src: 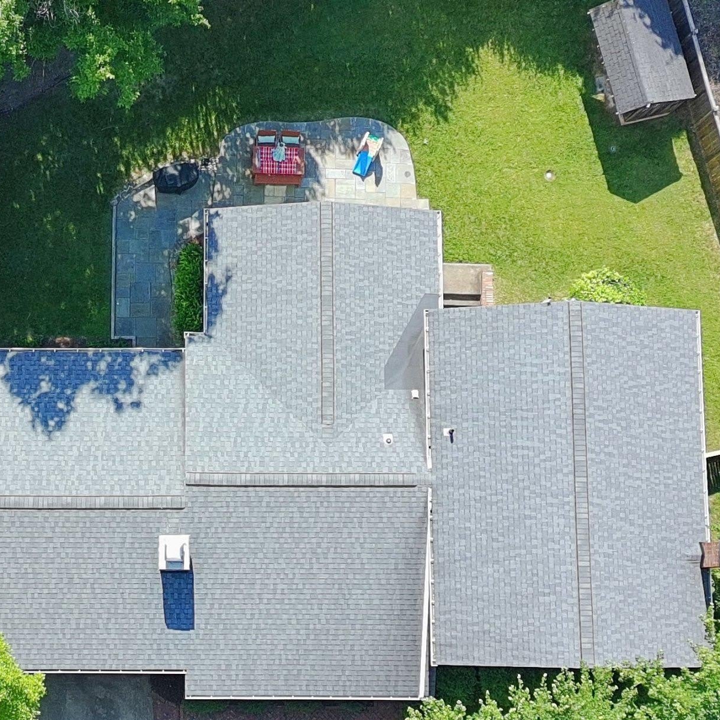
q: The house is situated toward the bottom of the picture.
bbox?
[0,201,720,703]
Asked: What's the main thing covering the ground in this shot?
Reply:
buildings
